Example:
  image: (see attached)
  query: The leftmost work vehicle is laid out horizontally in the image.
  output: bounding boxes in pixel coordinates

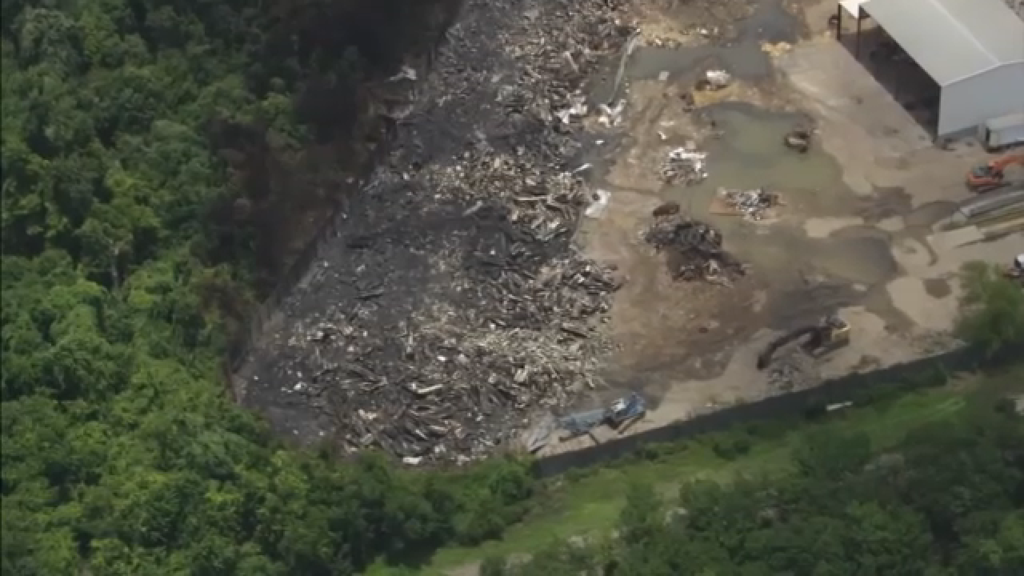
[758,319,858,369]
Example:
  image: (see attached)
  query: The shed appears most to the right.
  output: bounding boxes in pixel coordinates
[838,0,1024,141]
